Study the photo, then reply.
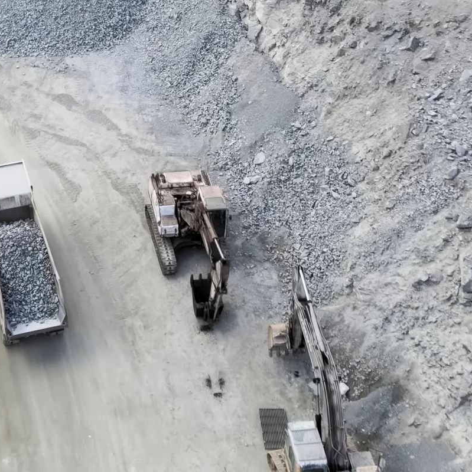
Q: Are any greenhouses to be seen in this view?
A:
No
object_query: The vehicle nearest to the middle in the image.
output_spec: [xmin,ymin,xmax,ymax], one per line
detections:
[141,174,235,319]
